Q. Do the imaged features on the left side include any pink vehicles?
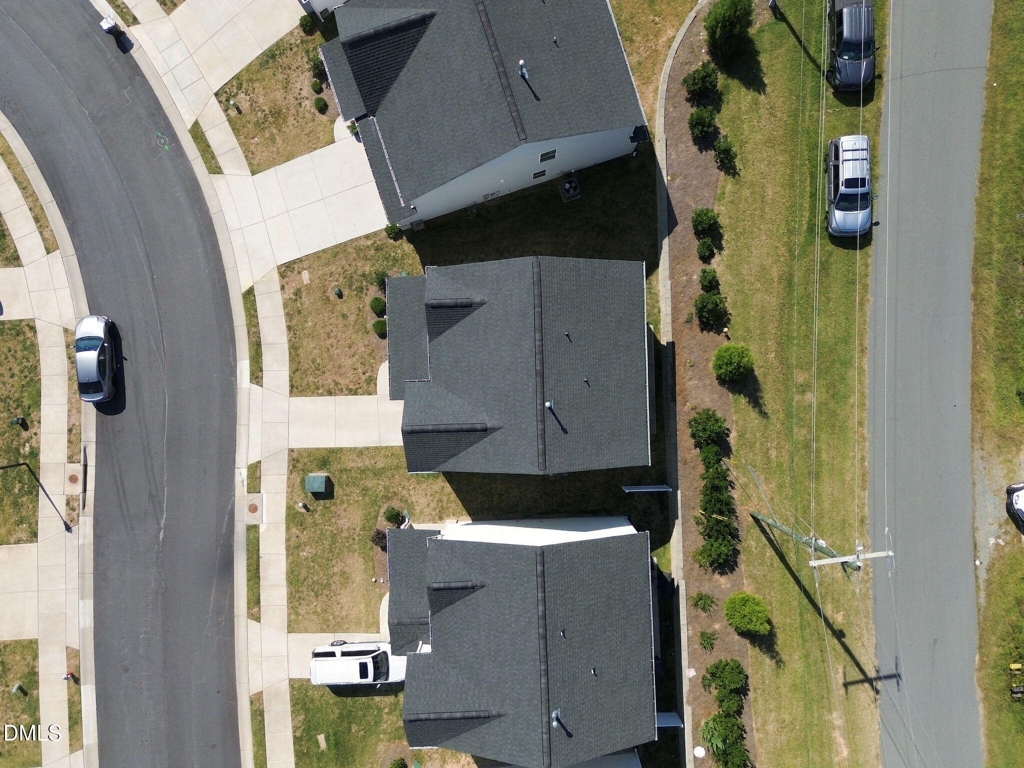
No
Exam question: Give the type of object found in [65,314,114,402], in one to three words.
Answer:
car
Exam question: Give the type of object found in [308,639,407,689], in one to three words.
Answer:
car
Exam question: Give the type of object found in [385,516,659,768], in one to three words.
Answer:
house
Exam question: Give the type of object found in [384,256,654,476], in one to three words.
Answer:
house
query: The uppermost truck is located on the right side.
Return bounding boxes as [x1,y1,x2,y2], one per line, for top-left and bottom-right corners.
[826,0,882,94]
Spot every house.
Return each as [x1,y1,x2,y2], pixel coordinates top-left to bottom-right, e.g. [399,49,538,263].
[385,516,659,768]
[318,0,653,231]
[384,256,654,476]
